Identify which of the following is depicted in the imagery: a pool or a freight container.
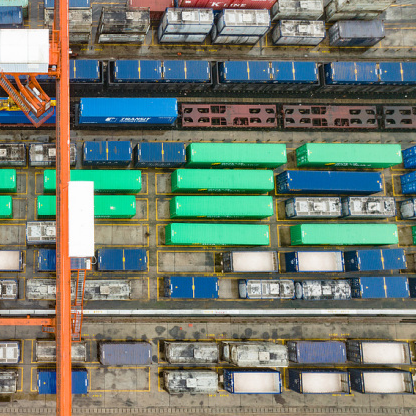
freight container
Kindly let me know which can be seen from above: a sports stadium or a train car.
train car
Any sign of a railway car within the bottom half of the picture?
No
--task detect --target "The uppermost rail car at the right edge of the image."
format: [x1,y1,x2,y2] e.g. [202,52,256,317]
[316,61,416,92]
